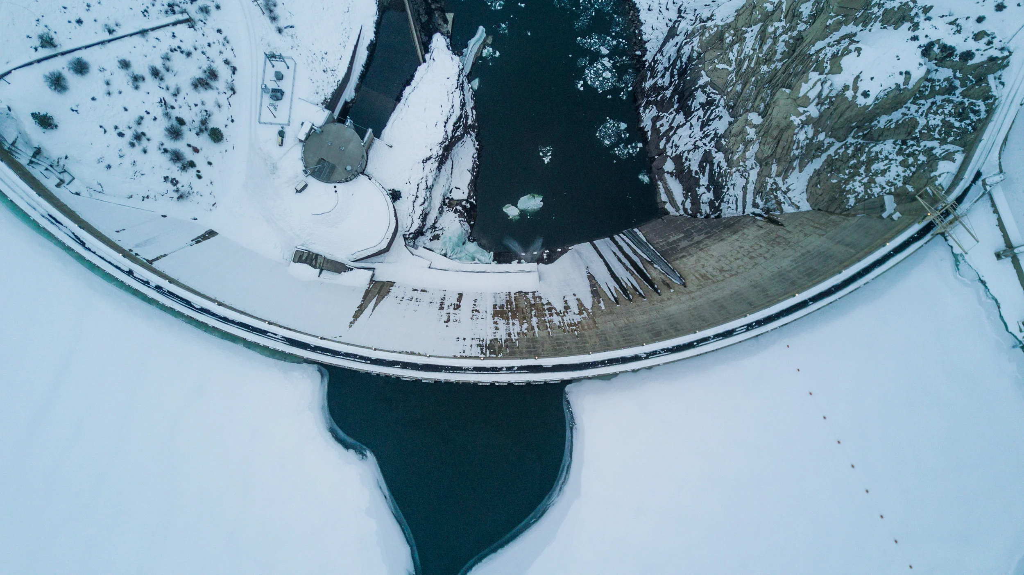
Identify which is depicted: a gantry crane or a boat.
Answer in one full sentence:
This aerial view contains a gantry crane.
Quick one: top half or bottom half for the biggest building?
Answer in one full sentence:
You can find the biggest building in the top half.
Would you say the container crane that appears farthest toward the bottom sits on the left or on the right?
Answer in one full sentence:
It is on the right.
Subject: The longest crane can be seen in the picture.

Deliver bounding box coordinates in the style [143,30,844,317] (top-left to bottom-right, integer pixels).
[914,185,980,254]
